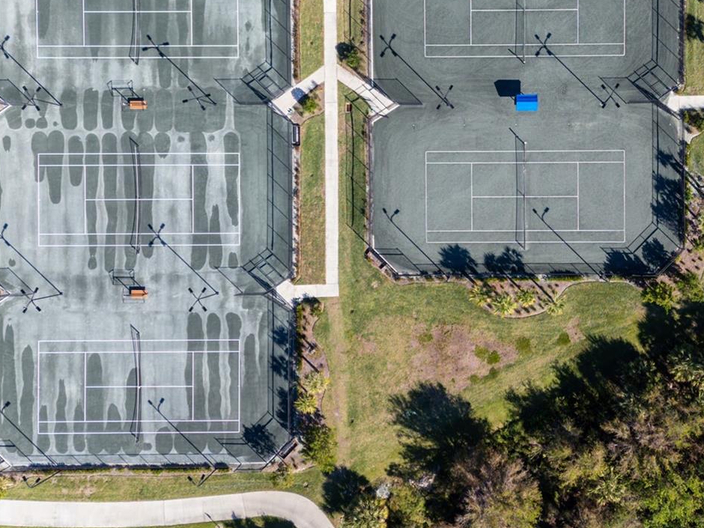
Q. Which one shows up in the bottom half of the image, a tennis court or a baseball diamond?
tennis court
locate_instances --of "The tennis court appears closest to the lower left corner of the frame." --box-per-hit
[0,294,294,465]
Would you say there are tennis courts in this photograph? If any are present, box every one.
[0,294,294,465]
[371,0,682,105]
[0,105,294,294]
[0,0,292,105]
[372,105,684,276]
